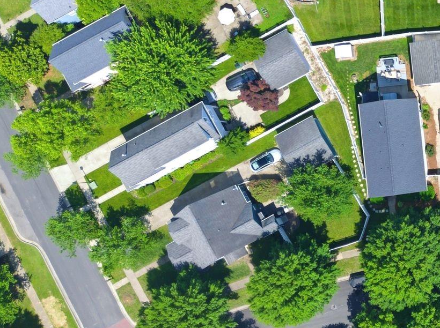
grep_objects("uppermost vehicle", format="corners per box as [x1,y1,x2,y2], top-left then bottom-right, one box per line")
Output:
[224,69,260,90]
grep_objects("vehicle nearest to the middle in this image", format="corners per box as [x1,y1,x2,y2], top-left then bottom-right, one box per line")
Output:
[250,147,282,173]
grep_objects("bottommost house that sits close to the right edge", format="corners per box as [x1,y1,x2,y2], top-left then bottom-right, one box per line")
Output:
[357,90,428,197]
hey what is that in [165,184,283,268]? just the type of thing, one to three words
house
